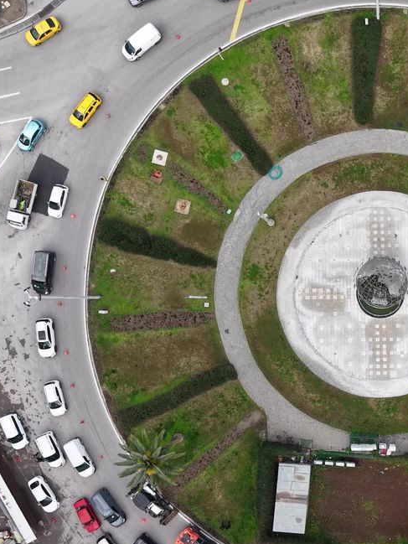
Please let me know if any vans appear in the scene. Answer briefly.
Yes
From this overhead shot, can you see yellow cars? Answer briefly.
Yes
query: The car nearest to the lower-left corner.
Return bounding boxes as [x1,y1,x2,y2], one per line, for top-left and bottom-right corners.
[26,474,61,515]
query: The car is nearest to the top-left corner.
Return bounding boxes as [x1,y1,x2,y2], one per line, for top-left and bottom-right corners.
[25,21,64,48]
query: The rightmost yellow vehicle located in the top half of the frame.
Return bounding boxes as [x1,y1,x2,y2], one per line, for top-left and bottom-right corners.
[68,90,104,129]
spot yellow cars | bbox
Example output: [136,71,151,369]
[68,90,104,129]
[25,21,64,48]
